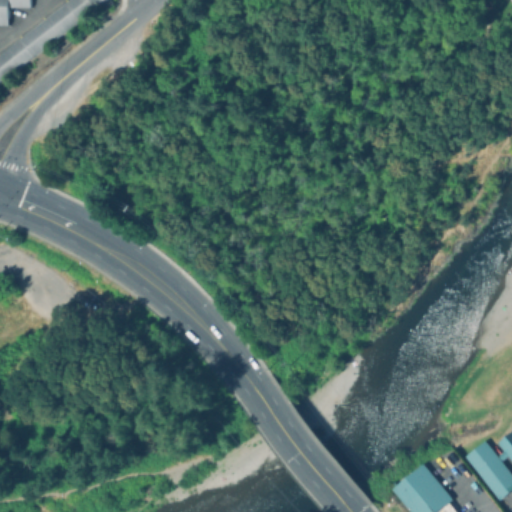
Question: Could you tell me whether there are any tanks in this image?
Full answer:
No, I can see no tank in this picture.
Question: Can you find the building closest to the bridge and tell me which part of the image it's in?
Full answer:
Look in the bottom right portion of the view to spot the building closest to the bridge.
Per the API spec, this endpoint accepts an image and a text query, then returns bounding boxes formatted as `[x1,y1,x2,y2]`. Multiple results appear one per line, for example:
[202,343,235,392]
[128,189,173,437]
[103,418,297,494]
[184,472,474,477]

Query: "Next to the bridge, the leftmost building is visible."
[393,464,453,512]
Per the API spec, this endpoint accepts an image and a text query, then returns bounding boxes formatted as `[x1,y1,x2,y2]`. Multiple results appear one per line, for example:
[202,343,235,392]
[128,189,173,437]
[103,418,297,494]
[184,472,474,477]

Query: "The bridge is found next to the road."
[234,361,379,512]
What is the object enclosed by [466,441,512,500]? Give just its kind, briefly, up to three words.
building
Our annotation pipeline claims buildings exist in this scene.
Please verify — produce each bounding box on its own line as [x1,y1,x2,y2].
[498,432,512,463]
[10,0,32,9]
[393,464,453,512]
[0,0,9,26]
[466,441,512,500]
